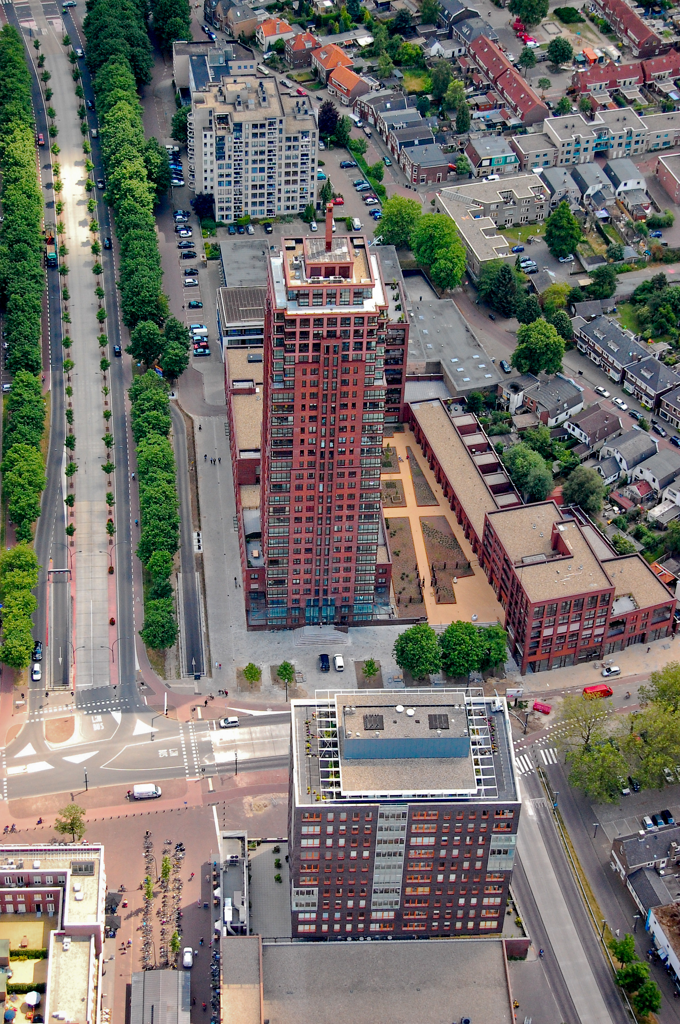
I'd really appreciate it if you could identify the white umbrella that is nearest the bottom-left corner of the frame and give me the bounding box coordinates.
[25,991,41,1005]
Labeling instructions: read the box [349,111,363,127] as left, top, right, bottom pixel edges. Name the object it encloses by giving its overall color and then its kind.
white vehicle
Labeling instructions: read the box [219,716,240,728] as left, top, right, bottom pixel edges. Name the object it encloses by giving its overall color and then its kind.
white vehicle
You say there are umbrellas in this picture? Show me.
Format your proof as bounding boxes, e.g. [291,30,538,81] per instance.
[32,1015,44,1024]
[5,1010,16,1022]
[212,921,220,931]
[211,888,220,898]
[105,913,124,931]
[25,991,41,1005]
[105,891,125,908]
